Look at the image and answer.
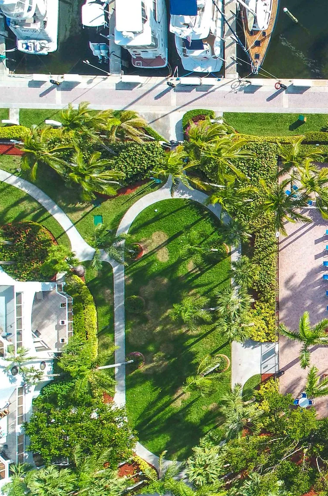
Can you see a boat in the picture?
Yes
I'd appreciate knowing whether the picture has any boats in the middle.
No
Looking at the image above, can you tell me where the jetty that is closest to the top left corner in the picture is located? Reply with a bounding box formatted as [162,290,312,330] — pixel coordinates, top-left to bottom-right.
[0,29,14,74]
